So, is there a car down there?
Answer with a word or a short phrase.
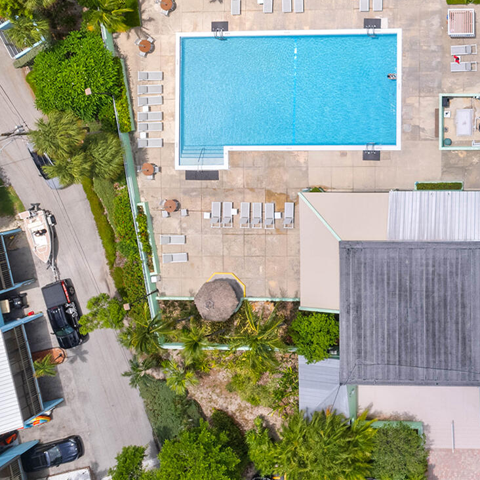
Yes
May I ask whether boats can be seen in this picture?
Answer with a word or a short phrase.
Yes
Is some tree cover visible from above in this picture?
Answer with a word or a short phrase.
Yes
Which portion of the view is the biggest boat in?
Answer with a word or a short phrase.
left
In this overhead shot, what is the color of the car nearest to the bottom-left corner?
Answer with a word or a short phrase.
black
